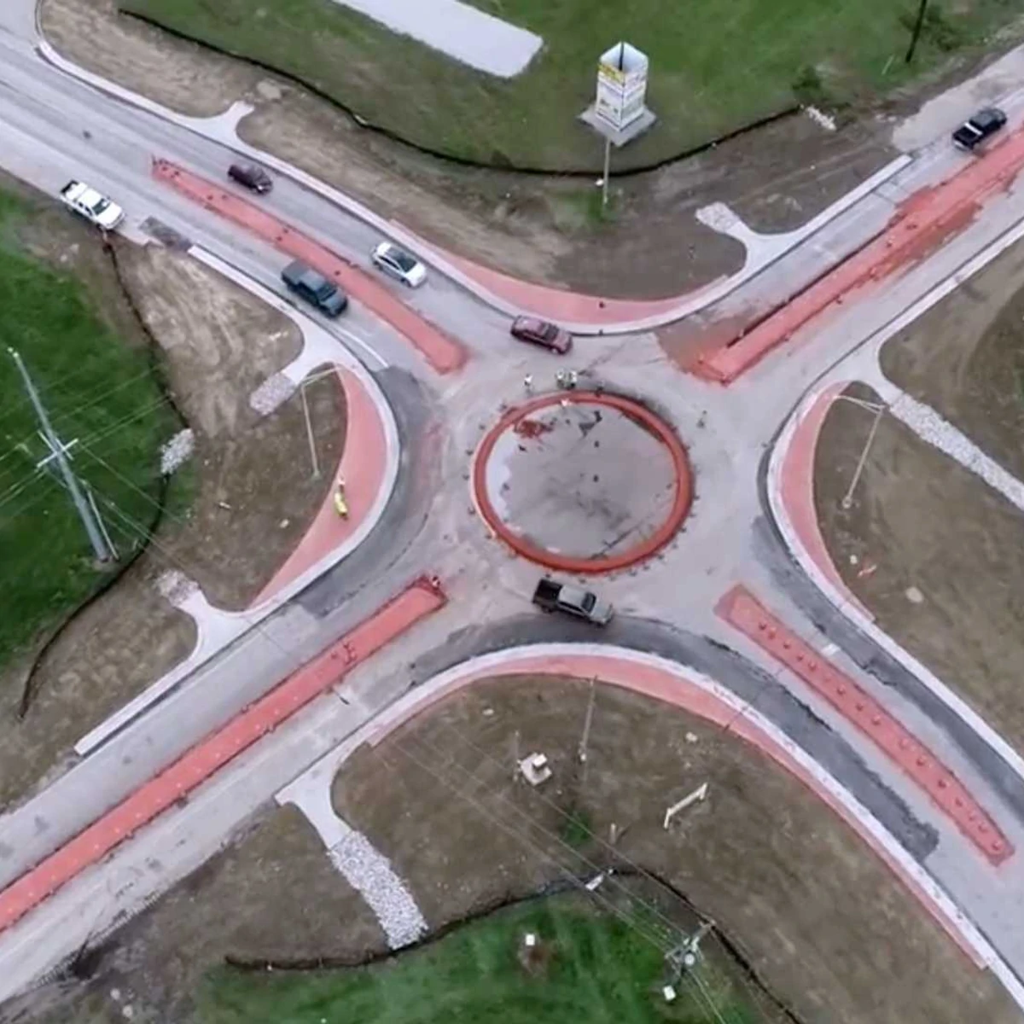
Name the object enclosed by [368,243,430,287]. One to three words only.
car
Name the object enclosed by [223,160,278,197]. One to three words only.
car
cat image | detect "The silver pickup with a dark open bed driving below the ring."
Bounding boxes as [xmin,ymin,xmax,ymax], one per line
[528,574,618,629]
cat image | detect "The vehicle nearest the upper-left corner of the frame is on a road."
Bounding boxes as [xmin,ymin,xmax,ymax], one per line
[58,174,130,230]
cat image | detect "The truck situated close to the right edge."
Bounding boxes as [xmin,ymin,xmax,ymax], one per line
[952,108,1013,152]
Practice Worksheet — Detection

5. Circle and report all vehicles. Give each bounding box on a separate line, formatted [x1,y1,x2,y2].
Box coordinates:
[528,574,618,629]
[58,174,130,230]
[223,160,278,197]
[279,256,351,316]
[509,316,574,358]
[368,243,430,287]
[952,108,1013,152]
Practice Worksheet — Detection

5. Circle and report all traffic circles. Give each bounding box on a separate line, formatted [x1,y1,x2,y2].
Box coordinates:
[393,335,771,640]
